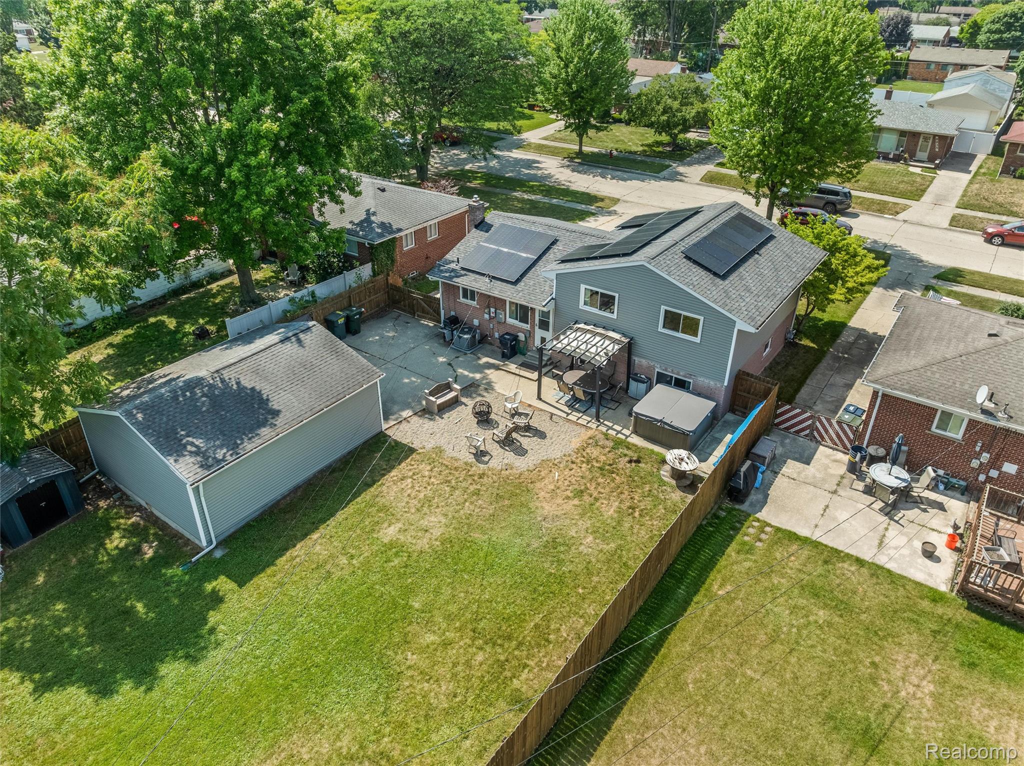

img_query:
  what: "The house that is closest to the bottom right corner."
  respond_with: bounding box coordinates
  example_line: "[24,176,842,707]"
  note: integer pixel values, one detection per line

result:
[856,293,1024,489]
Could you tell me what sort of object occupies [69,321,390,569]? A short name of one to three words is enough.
building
